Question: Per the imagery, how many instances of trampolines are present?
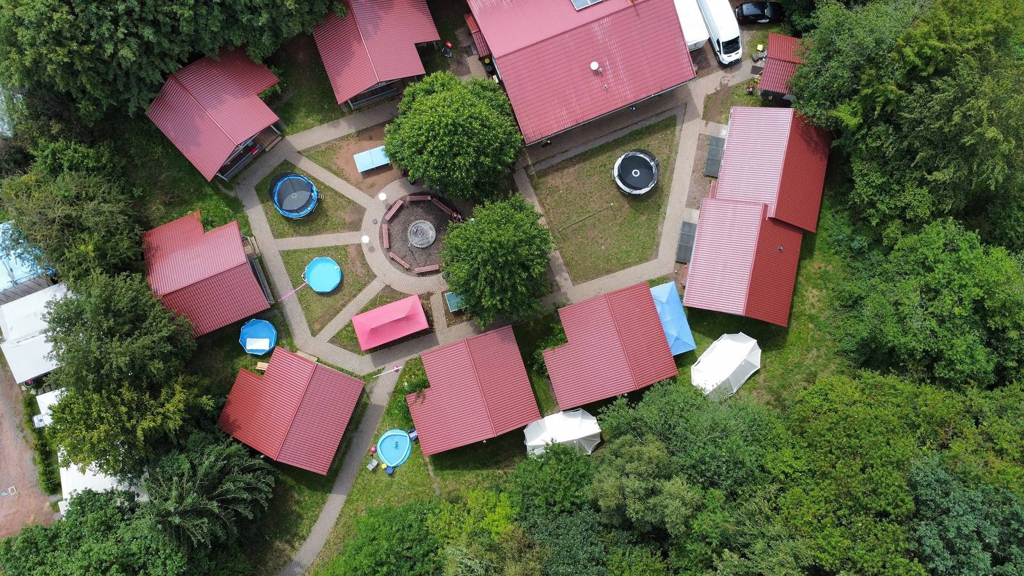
2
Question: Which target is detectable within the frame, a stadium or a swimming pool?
swimming pool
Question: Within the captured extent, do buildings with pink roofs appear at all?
Yes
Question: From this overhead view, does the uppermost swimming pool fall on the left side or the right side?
left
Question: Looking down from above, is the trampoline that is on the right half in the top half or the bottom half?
top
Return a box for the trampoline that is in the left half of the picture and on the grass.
[265,169,327,220]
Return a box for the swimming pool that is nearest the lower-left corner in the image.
[239,317,281,356]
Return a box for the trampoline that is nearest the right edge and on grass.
[611,145,663,196]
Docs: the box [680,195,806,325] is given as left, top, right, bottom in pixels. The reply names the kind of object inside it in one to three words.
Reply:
building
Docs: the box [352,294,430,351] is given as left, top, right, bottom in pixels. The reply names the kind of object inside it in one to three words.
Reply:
gazebo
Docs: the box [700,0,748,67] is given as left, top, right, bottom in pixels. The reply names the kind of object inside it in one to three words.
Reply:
van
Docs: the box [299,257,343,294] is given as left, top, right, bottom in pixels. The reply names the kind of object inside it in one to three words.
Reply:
swimming pool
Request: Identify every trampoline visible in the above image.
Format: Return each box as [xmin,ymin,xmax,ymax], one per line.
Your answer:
[265,169,327,220]
[611,145,663,196]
